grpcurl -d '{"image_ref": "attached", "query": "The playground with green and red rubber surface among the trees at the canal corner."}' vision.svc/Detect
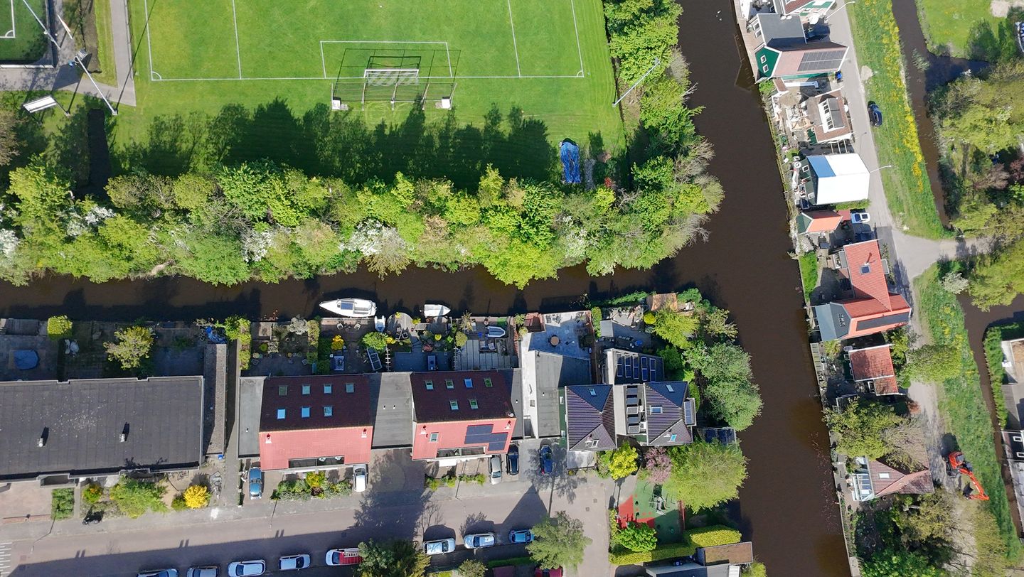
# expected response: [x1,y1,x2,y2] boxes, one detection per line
[618,478,685,543]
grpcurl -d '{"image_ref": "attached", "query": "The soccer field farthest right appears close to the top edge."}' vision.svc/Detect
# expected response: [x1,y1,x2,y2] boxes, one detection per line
[136,0,620,151]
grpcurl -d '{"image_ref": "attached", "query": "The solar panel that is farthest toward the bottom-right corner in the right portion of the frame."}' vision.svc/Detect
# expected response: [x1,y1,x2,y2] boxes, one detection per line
[857,313,912,333]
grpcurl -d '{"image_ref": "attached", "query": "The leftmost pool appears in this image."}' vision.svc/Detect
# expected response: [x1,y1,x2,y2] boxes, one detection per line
[8,348,45,372]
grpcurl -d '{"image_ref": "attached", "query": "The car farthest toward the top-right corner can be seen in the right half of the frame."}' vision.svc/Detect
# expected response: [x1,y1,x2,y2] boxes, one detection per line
[866,103,883,126]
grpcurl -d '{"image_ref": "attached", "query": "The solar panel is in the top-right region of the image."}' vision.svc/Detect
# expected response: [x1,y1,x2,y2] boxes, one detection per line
[799,50,847,72]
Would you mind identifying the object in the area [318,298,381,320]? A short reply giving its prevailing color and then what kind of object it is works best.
white boat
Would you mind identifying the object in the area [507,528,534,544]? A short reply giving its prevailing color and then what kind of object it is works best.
blue car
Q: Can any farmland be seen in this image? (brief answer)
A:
No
